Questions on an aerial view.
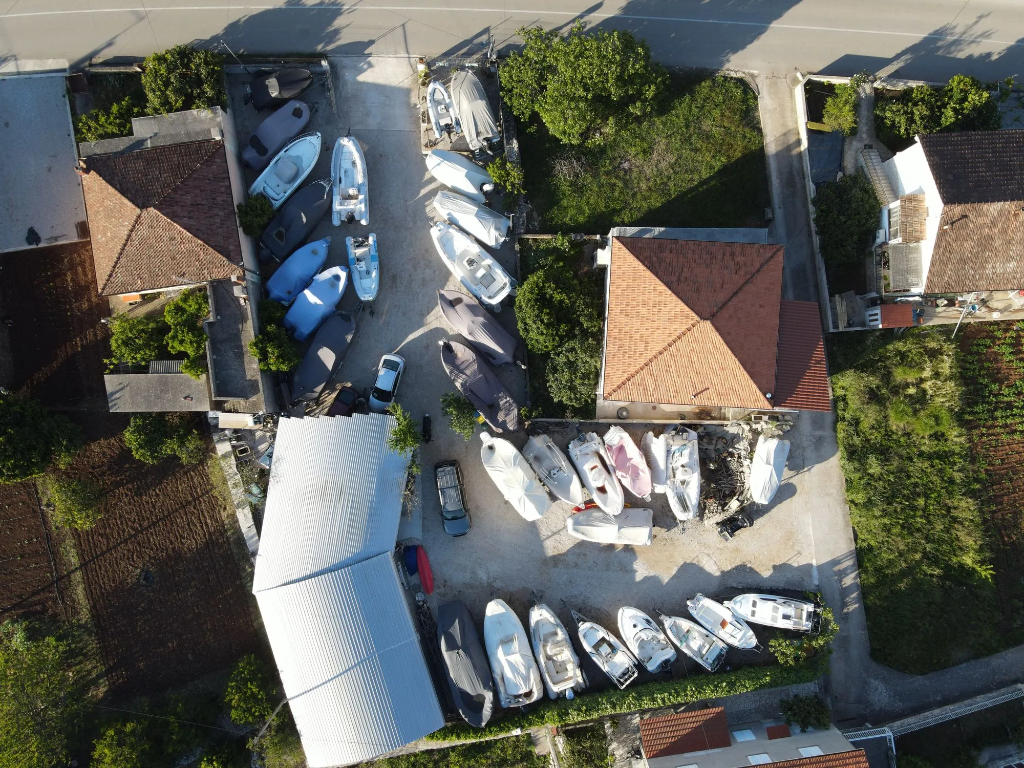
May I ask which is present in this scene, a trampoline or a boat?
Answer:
boat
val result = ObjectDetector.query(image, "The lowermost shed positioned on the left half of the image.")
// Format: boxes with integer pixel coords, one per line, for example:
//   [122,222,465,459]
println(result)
[254,413,446,768]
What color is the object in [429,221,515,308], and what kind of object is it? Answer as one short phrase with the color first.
white boat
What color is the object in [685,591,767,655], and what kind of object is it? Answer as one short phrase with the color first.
white boat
